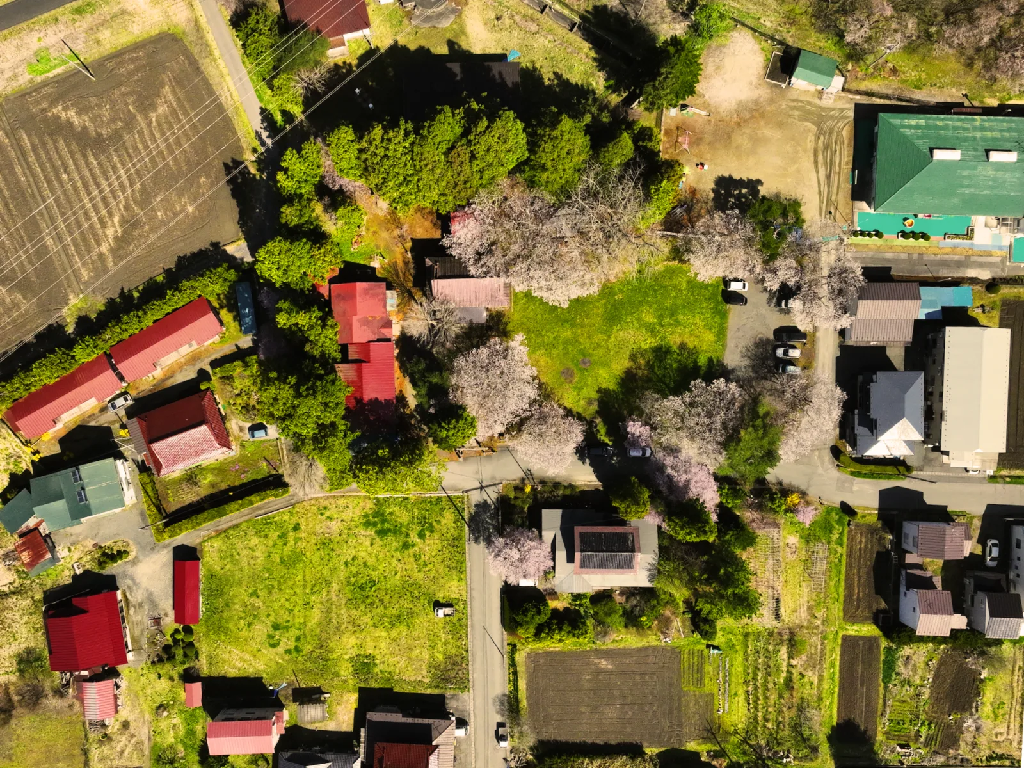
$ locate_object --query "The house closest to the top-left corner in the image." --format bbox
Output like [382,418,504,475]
[282,0,371,58]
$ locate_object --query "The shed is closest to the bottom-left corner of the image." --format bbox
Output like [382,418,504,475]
[73,676,123,720]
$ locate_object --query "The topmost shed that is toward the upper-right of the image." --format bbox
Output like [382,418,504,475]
[788,50,845,95]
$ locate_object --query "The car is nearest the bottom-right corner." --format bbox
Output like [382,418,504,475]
[983,539,998,565]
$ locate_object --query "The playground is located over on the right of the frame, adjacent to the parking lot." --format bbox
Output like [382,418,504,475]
[661,26,857,276]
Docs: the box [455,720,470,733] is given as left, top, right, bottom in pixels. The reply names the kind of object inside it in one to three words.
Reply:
vehicle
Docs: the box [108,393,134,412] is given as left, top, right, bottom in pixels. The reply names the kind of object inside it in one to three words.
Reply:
car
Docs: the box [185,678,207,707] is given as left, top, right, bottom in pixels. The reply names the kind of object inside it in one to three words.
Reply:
shed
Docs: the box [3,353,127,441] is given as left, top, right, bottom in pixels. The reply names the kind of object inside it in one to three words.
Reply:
house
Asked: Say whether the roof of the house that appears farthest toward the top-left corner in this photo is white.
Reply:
No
